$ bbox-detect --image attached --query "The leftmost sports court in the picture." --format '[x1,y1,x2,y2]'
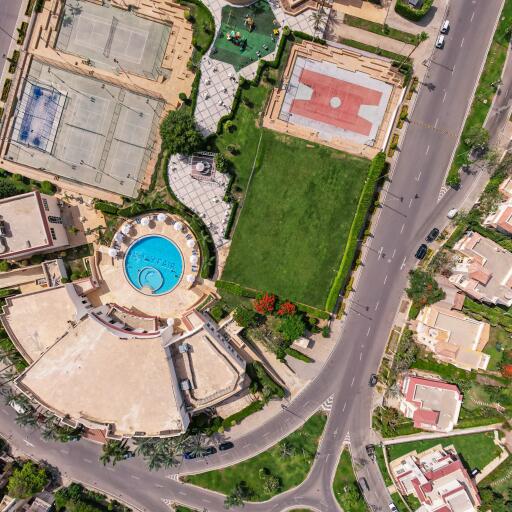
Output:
[7,78,66,152]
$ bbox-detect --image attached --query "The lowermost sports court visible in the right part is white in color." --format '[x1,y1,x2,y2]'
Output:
[278,57,393,146]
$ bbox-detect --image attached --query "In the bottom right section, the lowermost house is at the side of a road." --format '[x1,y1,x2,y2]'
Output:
[388,439,482,512]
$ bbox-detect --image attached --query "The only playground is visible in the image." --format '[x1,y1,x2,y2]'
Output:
[210,0,280,72]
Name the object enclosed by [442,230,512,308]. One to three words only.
house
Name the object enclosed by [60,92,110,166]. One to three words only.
tennis court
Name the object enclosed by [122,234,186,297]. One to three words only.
swimming pool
